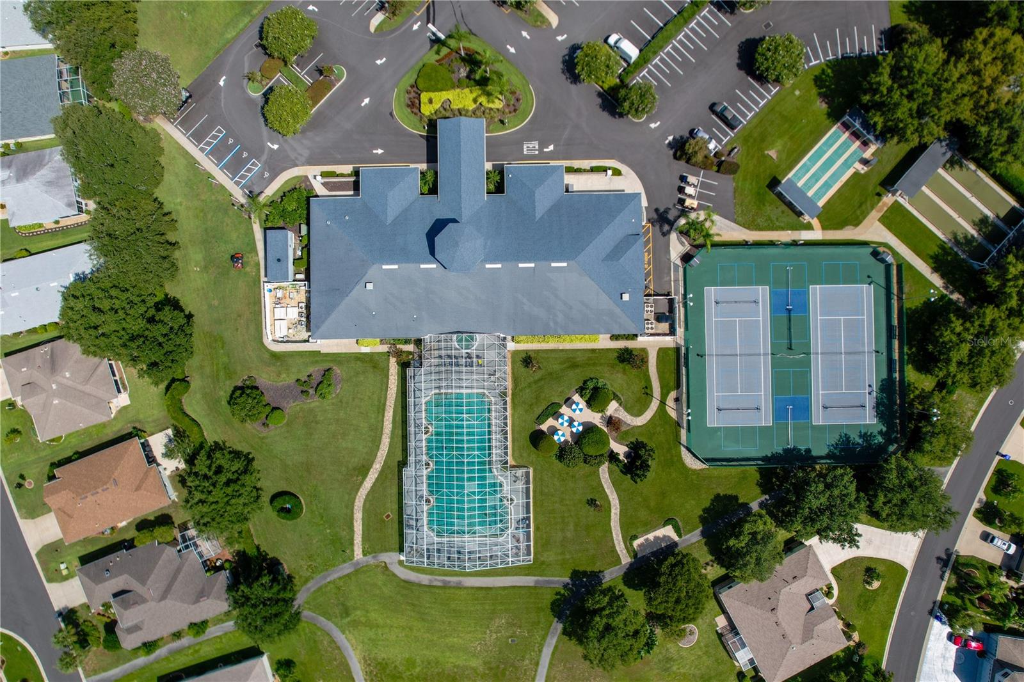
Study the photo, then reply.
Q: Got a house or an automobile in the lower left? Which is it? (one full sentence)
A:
It is a house that can be seen in the lower left.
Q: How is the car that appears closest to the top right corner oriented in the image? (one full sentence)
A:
In this picture, the car that appears closest to the top right corner is oriented diagonally.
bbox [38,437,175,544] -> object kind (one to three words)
house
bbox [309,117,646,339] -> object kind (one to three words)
building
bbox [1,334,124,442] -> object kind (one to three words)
house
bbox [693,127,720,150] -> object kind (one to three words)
car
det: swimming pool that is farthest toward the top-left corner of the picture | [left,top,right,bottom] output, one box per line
[69,68,85,104]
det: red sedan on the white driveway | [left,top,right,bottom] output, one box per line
[955,633,984,650]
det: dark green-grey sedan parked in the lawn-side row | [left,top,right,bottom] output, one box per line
[715,103,742,127]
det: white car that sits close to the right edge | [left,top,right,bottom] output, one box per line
[989,534,1019,552]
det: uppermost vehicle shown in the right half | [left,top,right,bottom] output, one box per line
[608,33,637,59]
